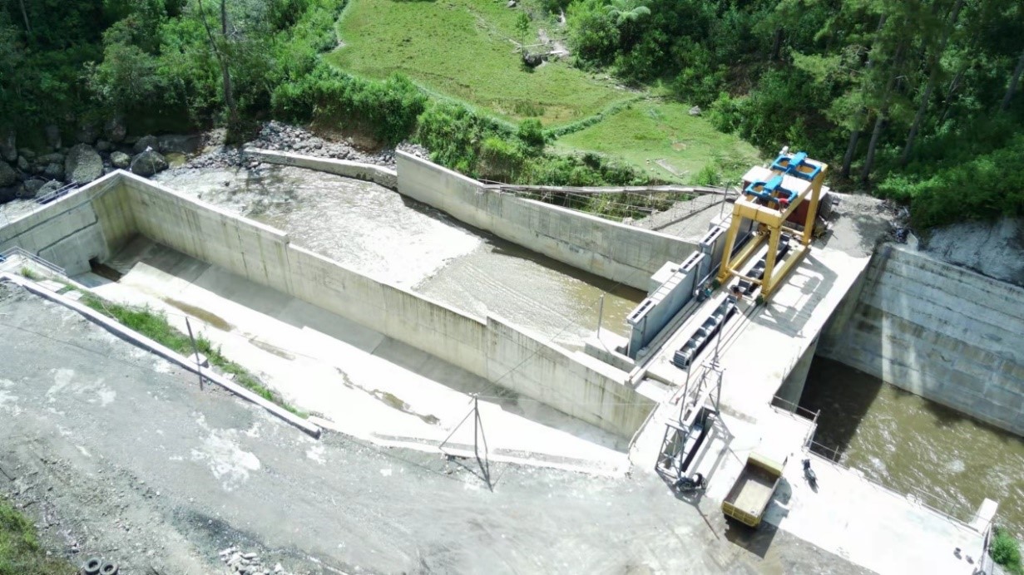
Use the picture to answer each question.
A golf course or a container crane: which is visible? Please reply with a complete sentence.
It is a container crane that can be seen here.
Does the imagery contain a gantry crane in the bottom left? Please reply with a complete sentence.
No, looking in the bottom left, there is no gantry crane.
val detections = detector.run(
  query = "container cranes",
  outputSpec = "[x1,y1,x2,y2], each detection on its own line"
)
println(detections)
[715,151,826,298]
